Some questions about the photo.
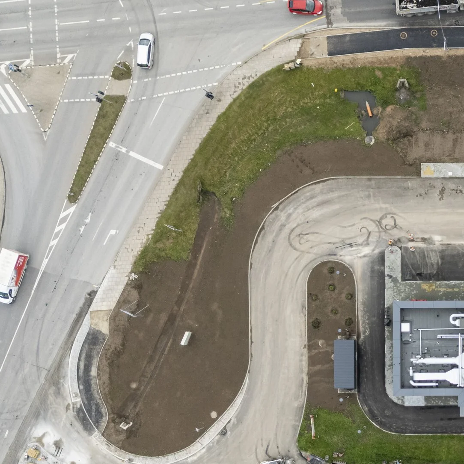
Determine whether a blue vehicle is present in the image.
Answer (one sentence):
No, this view has no blue vehicle in it.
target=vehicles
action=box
[136,33,158,71]
[260,455,296,464]
[0,247,26,304]
[396,0,464,19]
[287,0,325,19]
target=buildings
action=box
[393,300,464,417]
[334,340,357,388]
